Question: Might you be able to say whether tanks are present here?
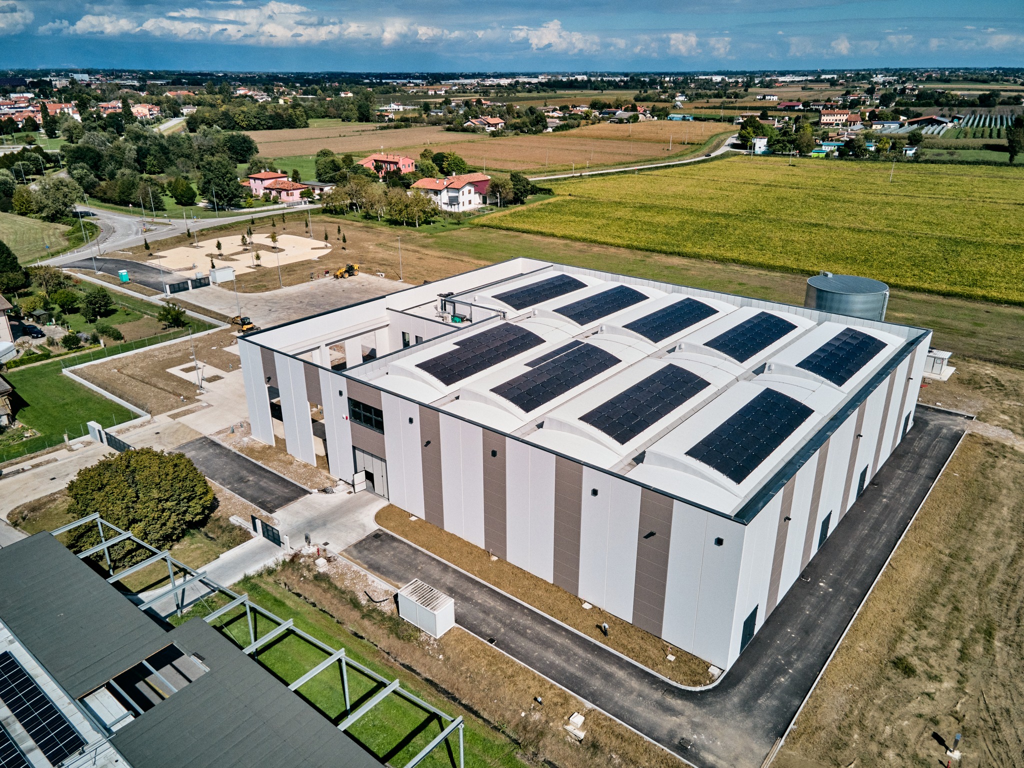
Yes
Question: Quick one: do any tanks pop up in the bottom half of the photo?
No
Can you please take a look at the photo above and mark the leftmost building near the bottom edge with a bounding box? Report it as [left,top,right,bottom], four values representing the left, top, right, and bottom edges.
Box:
[0,511,466,768]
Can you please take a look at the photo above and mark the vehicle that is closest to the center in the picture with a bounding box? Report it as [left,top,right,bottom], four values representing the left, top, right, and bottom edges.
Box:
[334,264,362,281]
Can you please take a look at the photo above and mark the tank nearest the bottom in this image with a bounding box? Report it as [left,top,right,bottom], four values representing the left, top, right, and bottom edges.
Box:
[804,270,906,323]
